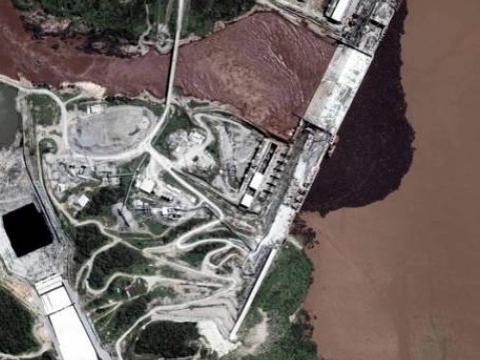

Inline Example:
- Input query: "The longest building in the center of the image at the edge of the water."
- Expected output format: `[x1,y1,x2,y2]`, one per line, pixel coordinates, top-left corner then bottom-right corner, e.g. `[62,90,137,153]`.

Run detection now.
[240,140,289,209]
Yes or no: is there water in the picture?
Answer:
Yes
